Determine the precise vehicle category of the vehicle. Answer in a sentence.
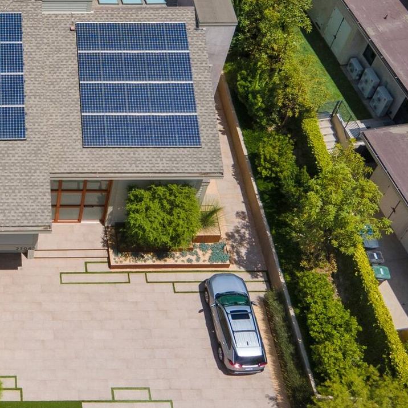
I'd say the vehicle is an automobile.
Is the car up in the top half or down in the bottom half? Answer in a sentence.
The car sits in the bottom half of the picture.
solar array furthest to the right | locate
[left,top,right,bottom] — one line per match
[77,22,201,147]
